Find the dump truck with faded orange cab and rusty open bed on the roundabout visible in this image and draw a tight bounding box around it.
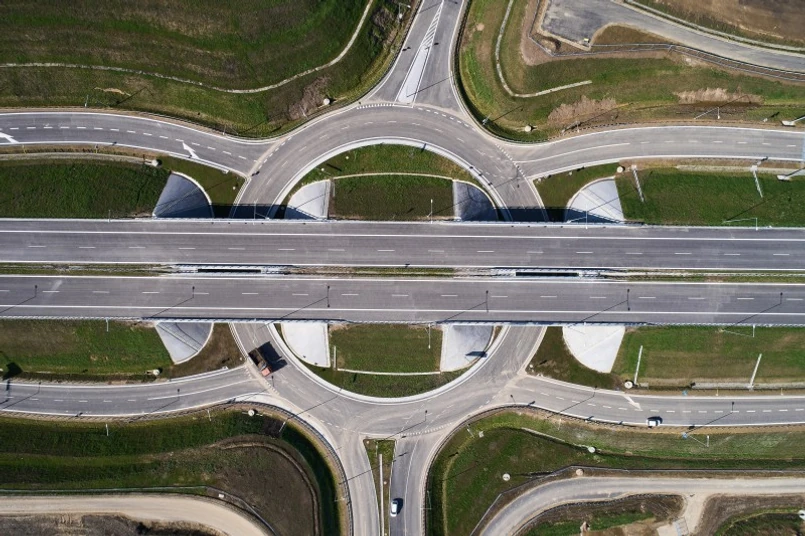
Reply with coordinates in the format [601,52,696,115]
[248,347,274,377]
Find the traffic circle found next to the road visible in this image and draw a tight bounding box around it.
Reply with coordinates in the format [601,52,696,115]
[219,104,559,436]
